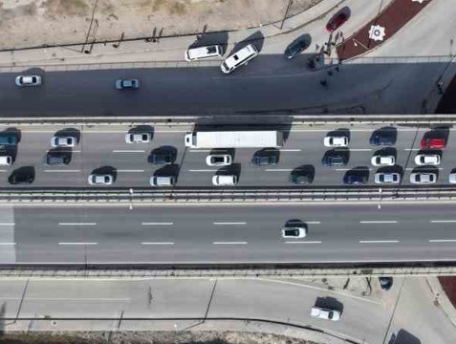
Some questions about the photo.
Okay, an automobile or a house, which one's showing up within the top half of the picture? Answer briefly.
automobile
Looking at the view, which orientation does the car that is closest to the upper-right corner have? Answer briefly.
on a diagonal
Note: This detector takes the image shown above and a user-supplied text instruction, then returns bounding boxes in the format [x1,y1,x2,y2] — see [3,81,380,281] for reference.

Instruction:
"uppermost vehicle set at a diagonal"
[326,5,350,31]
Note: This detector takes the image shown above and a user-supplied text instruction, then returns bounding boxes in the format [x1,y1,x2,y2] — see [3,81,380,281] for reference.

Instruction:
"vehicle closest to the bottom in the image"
[312,305,341,321]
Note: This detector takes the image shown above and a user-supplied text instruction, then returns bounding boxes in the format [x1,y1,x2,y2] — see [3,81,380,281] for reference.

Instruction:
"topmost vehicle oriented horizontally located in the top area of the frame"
[186,44,226,61]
